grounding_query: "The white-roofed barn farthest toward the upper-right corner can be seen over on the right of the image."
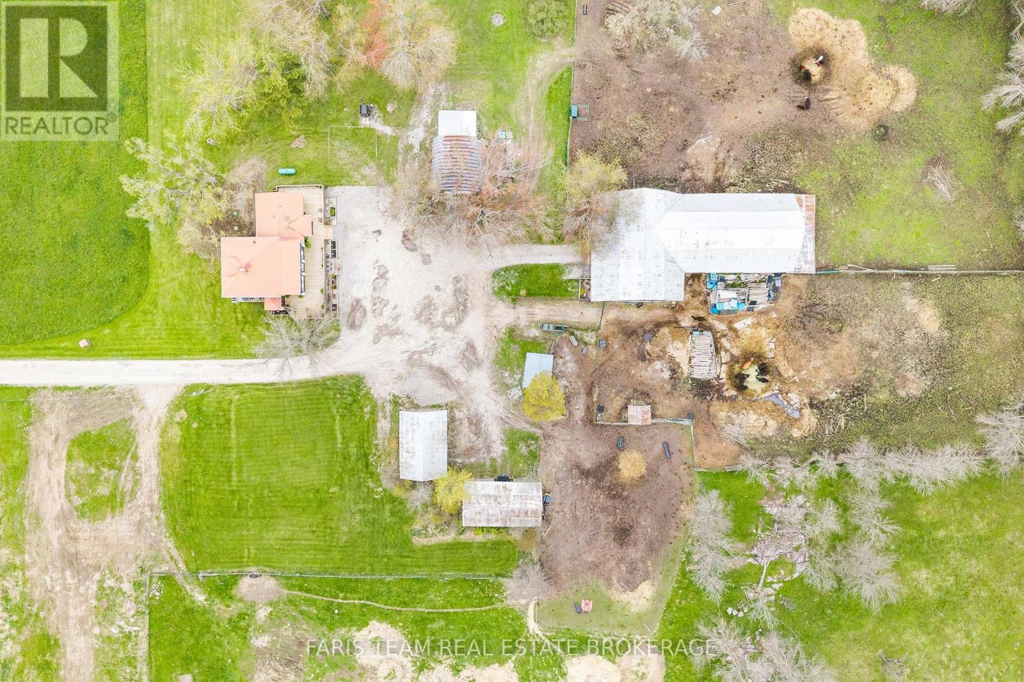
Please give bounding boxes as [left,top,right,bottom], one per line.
[589,188,816,303]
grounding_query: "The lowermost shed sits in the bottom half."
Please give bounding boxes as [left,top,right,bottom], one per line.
[462,481,543,527]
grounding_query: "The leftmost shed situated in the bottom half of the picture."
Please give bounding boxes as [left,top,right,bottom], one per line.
[399,411,447,483]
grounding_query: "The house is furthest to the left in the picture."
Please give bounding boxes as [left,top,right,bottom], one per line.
[221,191,315,311]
